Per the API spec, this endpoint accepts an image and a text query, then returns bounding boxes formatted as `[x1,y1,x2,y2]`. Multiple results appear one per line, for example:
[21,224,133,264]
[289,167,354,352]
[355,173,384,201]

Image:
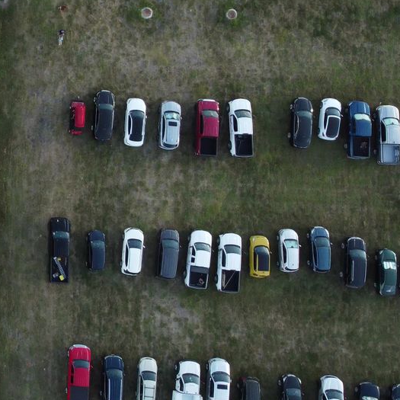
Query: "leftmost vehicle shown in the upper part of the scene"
[67,100,88,137]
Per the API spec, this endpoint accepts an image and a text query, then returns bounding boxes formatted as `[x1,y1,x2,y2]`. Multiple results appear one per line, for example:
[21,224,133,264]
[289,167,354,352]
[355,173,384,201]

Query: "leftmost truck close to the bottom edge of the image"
[65,343,94,400]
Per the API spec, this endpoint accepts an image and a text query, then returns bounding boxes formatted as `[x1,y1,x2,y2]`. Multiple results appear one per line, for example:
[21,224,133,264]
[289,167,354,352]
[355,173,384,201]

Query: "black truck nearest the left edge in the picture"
[46,217,74,283]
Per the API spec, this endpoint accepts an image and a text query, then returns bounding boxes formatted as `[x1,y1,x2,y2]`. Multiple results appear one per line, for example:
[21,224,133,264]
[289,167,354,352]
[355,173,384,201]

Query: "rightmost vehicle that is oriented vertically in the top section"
[373,105,400,165]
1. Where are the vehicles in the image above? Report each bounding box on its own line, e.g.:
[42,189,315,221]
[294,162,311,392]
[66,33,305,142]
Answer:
[214,232,245,294]
[340,236,370,289]
[85,230,110,270]
[355,382,383,400]
[155,227,182,280]
[343,101,374,161]
[65,343,94,400]
[204,356,233,400]
[305,225,335,273]
[100,354,127,400]
[119,227,146,276]
[237,375,265,400]
[274,229,301,273]
[226,99,256,158]
[246,235,273,279]
[317,374,346,400]
[46,217,74,283]
[193,99,223,158]
[373,105,400,165]
[373,248,400,296]
[288,98,315,148]
[156,101,185,150]
[276,373,306,400]
[315,98,344,142]
[67,100,88,137]
[183,229,215,290]
[121,98,149,146]
[90,90,119,140]
[133,356,161,400]
[175,360,204,400]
